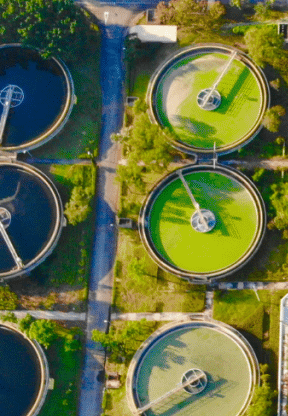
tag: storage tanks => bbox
[0,42,82,163]
[126,311,259,416]
[147,44,269,168]
[137,164,265,290]
[0,318,56,416]
[0,160,71,284]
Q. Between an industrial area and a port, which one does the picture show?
industrial area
